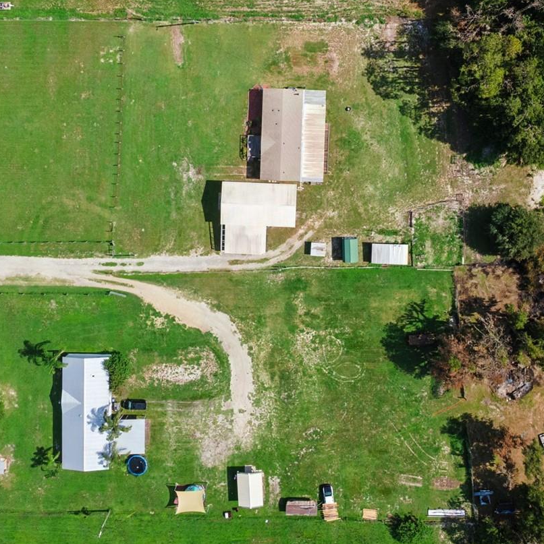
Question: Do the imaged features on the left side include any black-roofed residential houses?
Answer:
No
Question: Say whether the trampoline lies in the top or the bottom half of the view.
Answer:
bottom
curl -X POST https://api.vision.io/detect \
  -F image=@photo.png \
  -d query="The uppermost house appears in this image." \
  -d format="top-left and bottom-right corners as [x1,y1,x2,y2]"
[259,85,327,184]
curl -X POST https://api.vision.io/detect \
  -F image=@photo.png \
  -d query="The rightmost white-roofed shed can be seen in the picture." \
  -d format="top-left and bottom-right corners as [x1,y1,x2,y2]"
[370,242,409,266]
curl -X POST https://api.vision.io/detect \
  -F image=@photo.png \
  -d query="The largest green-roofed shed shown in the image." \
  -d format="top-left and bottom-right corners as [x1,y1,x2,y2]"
[342,232,357,263]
